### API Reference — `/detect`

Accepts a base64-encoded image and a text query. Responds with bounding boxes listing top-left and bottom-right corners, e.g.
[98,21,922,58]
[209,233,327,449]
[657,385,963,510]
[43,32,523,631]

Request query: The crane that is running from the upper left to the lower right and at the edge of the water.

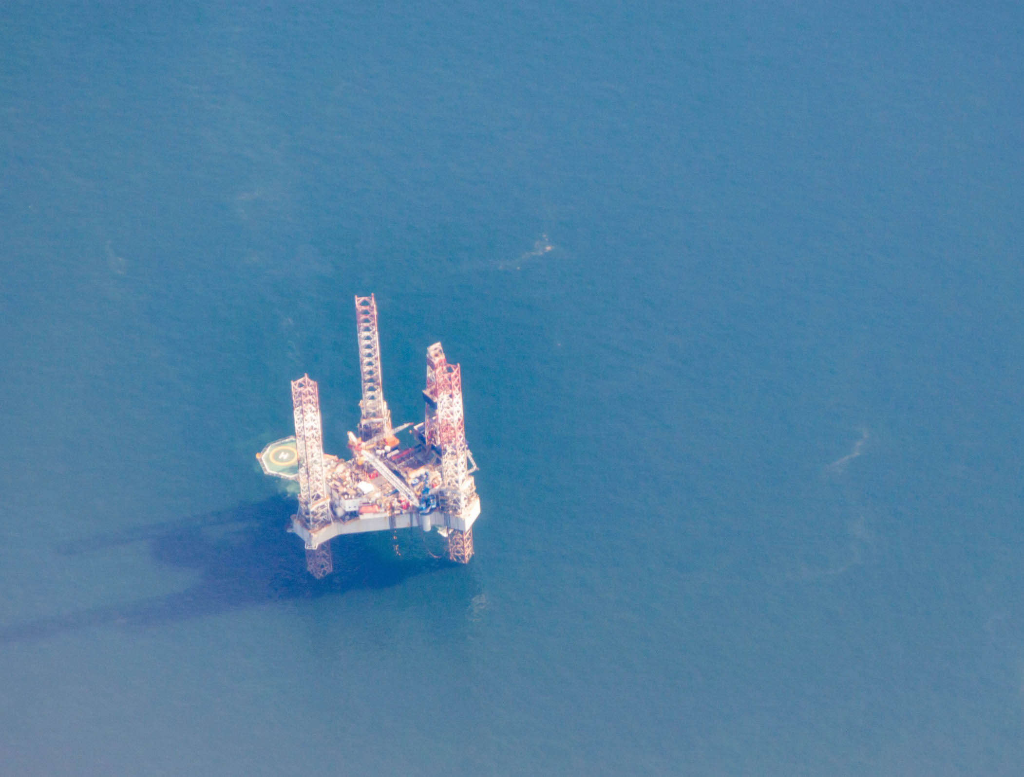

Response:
[360,450,438,532]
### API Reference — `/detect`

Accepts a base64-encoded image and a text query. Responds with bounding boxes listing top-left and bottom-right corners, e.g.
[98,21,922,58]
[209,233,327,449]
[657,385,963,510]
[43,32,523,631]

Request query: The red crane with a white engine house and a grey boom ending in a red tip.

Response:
[347,421,420,469]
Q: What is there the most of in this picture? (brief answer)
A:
water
